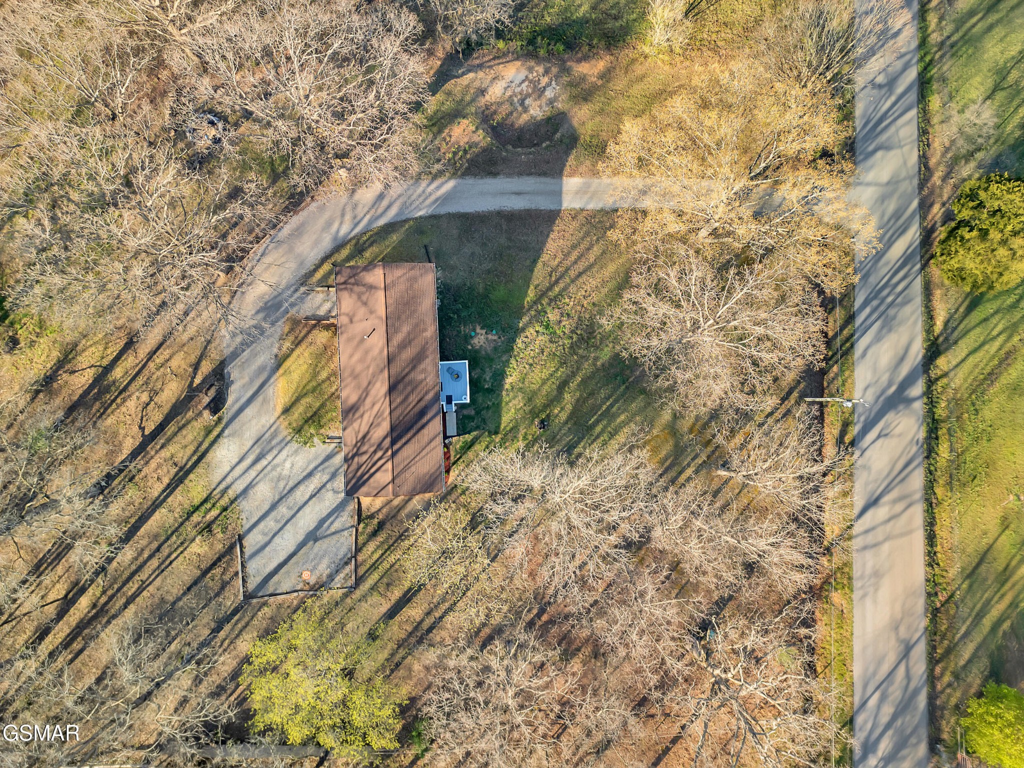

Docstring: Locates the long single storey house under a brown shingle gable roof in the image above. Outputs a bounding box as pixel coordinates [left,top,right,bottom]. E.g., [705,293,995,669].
[333,262,446,497]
